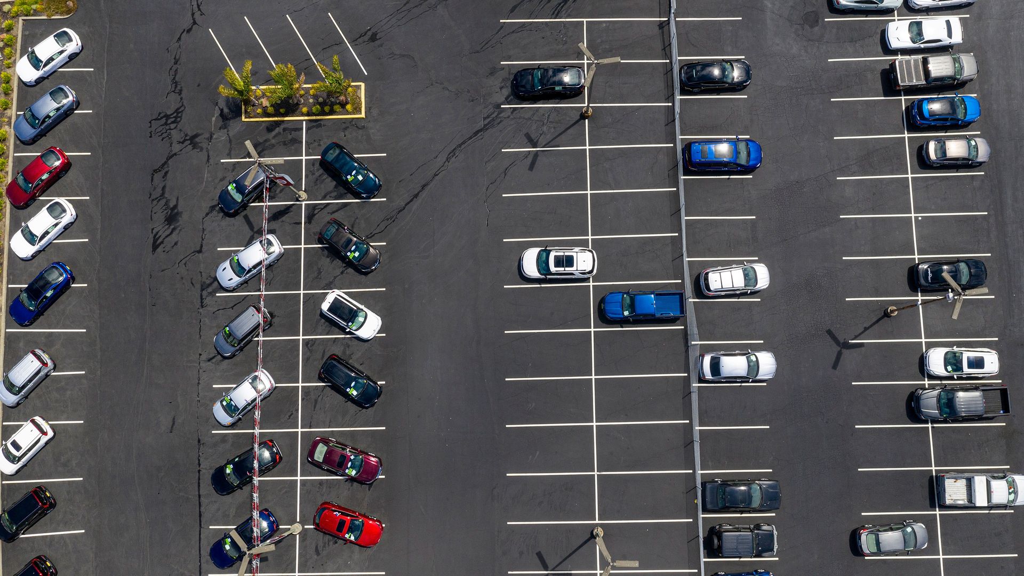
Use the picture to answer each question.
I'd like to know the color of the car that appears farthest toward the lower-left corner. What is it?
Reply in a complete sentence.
The car that appears farthest toward the lower-left corner is black.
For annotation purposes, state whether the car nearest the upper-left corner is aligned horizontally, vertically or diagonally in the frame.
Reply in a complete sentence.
The car nearest the upper-left corner is oriented diagonally.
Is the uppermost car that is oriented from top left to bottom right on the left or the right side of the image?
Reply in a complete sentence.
The uppermost car that is oriented from top left to bottom right sits on the left side.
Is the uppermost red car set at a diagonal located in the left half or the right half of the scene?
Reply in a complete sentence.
The uppermost red car set at a diagonal sits on the left side.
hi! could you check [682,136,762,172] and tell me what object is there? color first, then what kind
blue car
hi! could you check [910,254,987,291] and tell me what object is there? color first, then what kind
black car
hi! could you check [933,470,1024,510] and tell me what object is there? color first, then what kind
white truck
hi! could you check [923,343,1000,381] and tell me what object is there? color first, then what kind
white car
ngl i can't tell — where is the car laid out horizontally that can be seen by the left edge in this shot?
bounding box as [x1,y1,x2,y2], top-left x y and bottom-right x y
[13,556,57,576]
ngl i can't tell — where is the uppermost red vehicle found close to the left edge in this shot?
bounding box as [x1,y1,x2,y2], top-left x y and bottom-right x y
[6,149,71,208]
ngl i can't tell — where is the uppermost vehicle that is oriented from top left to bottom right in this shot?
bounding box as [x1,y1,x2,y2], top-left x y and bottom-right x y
[320,141,381,199]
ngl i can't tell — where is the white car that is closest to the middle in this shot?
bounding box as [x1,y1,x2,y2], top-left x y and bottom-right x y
[521,245,597,281]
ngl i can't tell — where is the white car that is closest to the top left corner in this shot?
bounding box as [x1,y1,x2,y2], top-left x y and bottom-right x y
[17,30,81,88]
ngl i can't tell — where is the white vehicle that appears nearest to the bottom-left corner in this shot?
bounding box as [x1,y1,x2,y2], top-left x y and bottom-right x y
[0,419,56,474]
